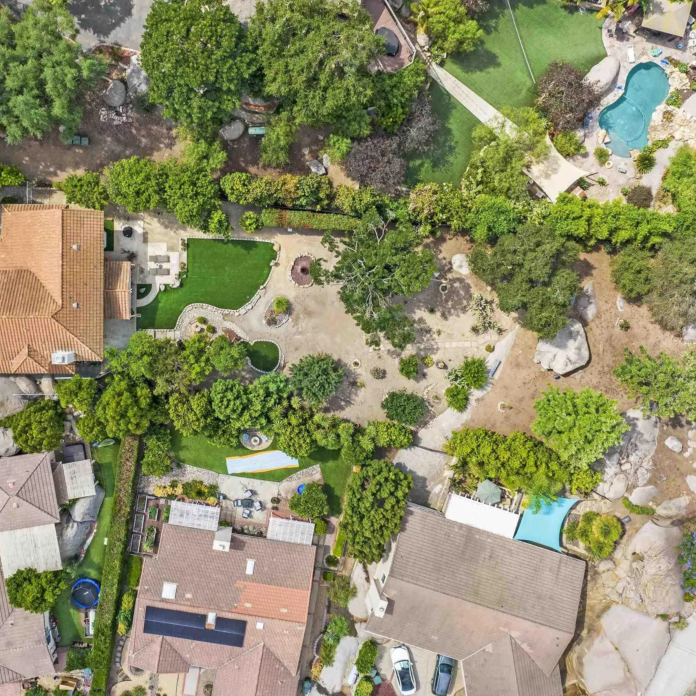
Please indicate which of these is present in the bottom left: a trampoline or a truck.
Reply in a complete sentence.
It is a trampoline that can be seen in the bottom left.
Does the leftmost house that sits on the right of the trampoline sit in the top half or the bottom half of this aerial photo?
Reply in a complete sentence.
The leftmost house that sits on the right of the trampoline is in the bottom half of the image.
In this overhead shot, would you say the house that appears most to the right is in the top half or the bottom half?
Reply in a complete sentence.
Seen from above, the house that appears most to the right lies in the bottom half of the view.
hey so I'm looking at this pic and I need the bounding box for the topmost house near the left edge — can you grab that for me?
[0,204,132,374]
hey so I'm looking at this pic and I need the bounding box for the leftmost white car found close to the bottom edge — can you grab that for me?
[390,643,419,696]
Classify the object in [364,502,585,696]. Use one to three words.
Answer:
house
